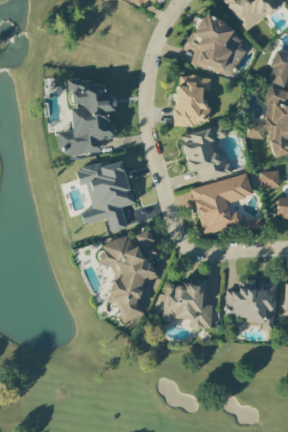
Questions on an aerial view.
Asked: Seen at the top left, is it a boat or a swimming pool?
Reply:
swimming pool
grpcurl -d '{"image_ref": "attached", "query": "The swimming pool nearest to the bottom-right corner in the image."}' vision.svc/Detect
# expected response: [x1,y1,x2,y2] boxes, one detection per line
[238,324,270,342]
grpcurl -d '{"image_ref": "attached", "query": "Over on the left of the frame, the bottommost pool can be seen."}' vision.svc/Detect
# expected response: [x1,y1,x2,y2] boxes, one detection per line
[76,245,119,318]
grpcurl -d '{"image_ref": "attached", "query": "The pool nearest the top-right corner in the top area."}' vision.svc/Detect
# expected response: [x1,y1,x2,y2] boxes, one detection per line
[267,2,288,33]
